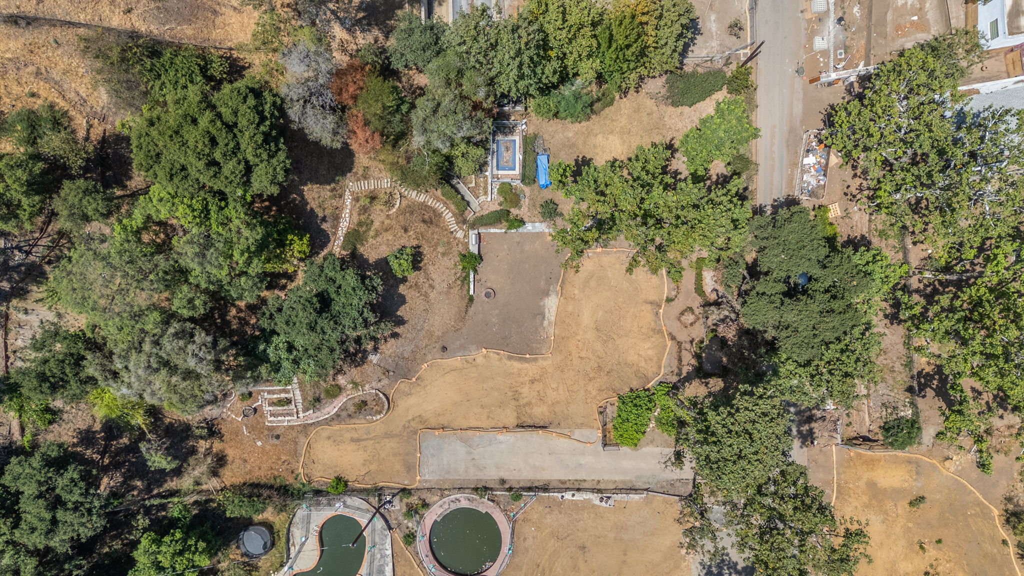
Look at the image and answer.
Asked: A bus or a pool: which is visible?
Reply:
pool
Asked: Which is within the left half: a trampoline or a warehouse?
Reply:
trampoline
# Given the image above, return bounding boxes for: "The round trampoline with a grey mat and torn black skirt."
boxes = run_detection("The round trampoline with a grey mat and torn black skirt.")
[235,525,270,562]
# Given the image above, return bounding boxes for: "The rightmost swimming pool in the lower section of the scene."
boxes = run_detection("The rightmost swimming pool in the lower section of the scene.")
[416,492,513,576]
